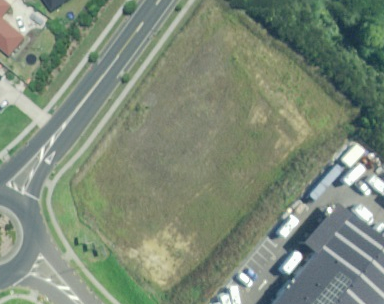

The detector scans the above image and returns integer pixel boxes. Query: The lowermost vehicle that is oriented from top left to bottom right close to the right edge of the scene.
[352,204,372,223]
